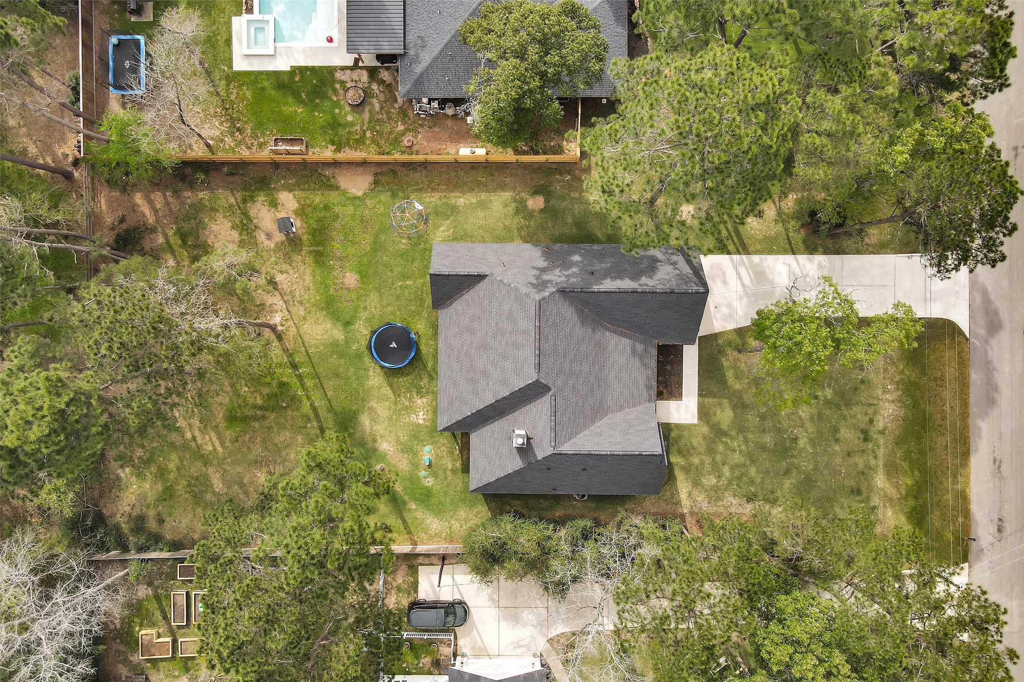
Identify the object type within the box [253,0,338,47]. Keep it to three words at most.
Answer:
swimming pool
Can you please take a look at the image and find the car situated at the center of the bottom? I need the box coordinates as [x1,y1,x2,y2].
[407,601,469,634]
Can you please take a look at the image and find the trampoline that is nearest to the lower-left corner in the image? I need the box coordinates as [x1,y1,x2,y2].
[365,321,422,370]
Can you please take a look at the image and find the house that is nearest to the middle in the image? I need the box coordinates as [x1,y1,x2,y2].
[430,243,710,495]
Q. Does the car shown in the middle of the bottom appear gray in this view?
Yes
